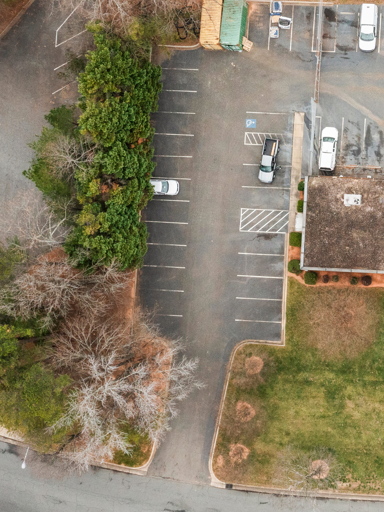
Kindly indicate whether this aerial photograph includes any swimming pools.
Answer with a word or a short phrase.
No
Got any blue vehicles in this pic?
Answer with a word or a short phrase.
No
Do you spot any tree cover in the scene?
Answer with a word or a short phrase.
Yes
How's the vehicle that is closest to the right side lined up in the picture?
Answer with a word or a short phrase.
vertically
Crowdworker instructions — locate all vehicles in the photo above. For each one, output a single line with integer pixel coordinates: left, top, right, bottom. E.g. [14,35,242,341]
[140,178,179,197]
[357,2,378,53]
[318,127,338,173]
[257,138,283,183]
